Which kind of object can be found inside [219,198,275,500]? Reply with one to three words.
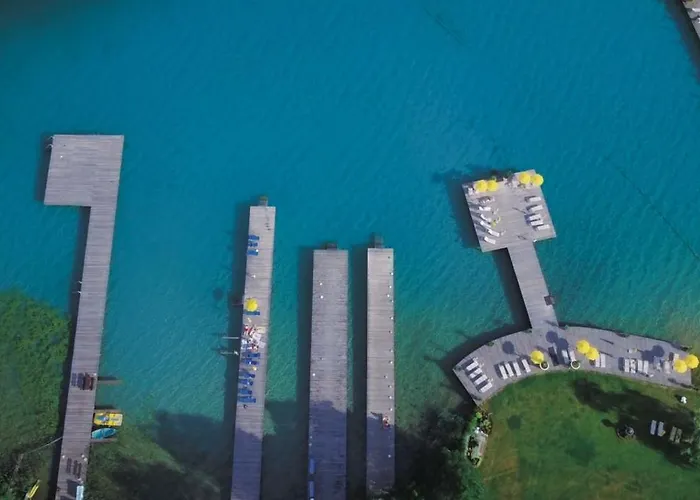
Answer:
pier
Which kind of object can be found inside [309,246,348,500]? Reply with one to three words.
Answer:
pier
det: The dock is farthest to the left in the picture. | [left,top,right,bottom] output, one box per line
[42,135,124,500]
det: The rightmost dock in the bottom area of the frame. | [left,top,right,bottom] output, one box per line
[366,238,394,500]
